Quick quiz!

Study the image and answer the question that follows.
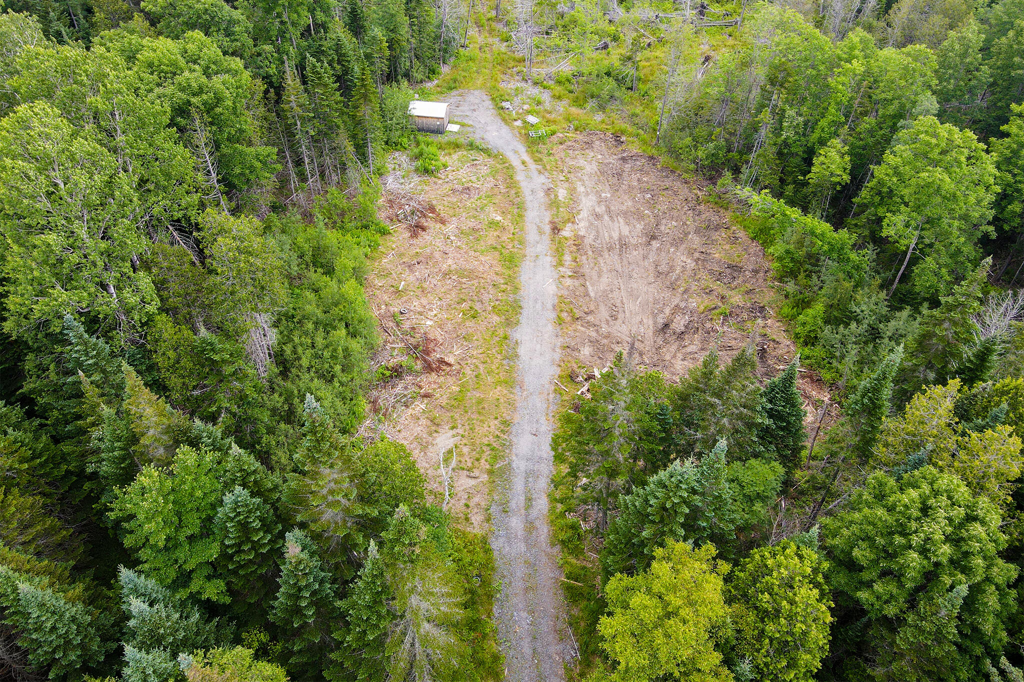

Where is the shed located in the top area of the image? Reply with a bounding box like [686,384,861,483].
[408,104,453,134]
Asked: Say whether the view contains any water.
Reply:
No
